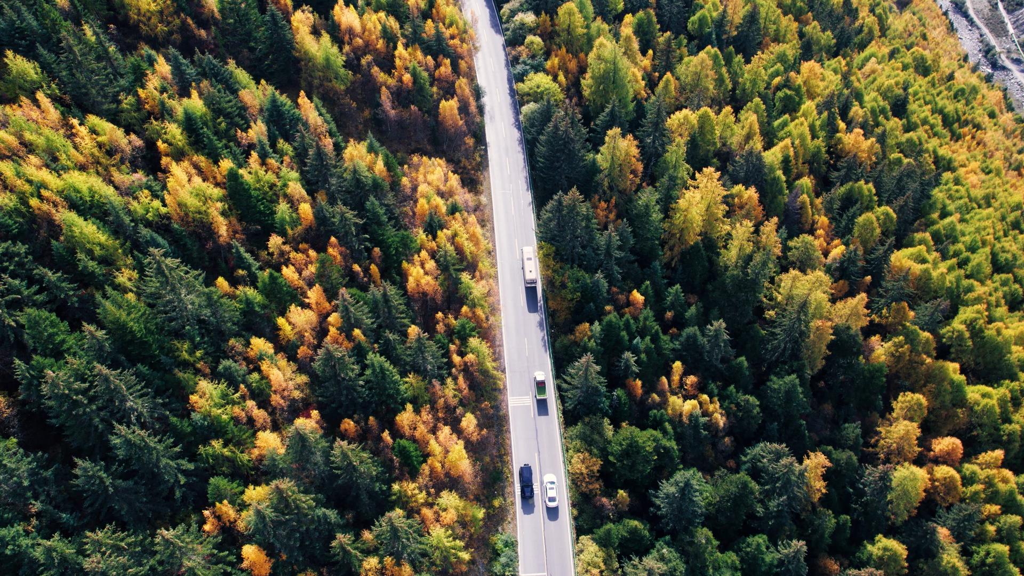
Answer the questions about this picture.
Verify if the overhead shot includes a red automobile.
No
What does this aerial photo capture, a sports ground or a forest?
forest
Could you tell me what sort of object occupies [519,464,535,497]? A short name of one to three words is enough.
car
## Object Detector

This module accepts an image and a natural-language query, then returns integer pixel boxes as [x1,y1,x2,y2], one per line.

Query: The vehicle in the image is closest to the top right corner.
[520,247,537,286]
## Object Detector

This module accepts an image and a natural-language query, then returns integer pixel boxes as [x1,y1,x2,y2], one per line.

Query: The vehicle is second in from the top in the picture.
[533,371,549,399]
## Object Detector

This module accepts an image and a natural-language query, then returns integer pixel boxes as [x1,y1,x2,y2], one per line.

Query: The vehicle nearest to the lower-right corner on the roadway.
[543,471,559,505]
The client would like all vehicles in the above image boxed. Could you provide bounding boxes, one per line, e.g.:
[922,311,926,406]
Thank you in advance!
[543,471,559,505]
[519,464,535,497]
[533,371,549,399]
[520,247,537,286]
